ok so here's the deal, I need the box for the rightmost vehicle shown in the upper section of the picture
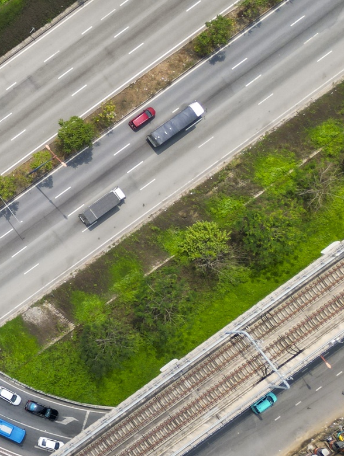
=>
[144,98,209,148]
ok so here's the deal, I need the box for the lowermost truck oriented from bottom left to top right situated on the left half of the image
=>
[77,184,130,226]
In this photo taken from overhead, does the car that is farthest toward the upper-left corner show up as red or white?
red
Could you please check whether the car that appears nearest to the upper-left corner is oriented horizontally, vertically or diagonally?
diagonally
